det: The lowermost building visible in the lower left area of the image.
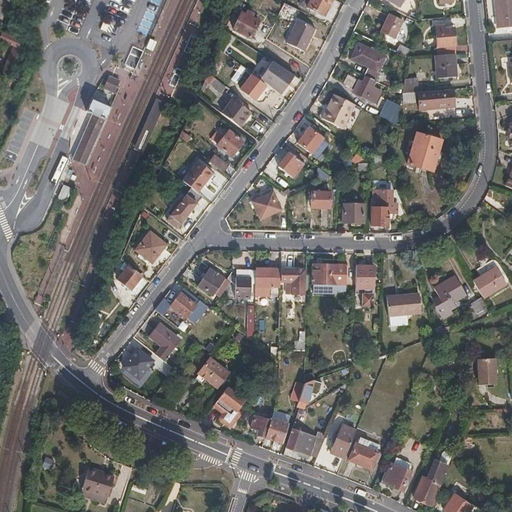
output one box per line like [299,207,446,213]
[82,468,116,506]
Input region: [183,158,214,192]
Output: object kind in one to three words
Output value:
house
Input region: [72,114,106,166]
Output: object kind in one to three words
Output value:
building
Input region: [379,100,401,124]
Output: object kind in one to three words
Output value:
shed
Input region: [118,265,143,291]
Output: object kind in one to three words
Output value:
house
